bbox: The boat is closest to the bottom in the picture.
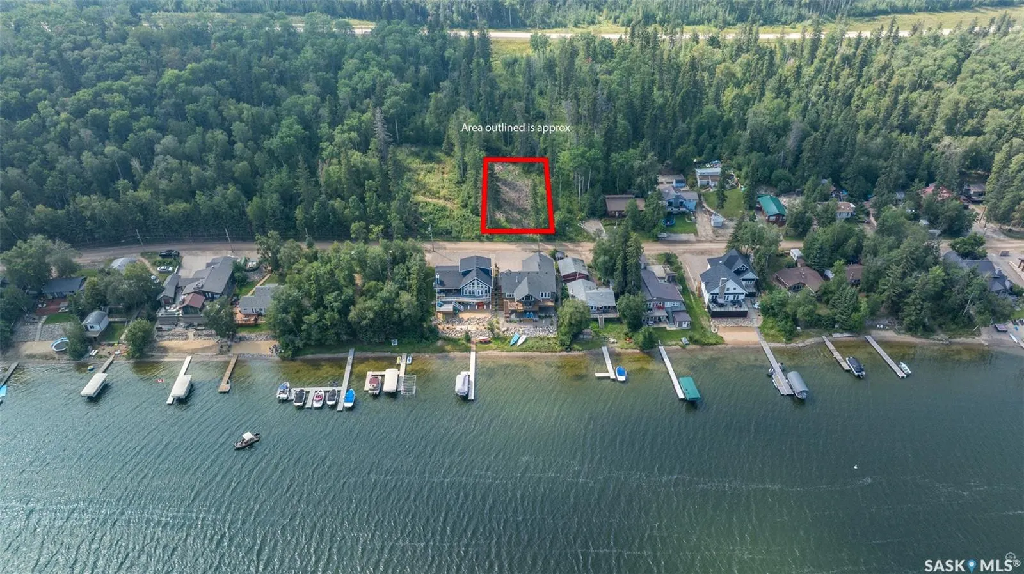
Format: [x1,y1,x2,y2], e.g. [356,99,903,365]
[232,431,266,450]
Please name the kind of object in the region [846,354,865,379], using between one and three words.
boat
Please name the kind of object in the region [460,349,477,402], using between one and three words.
pier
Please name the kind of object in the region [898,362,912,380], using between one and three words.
boat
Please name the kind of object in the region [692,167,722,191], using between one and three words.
building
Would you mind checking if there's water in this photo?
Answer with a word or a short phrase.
Yes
